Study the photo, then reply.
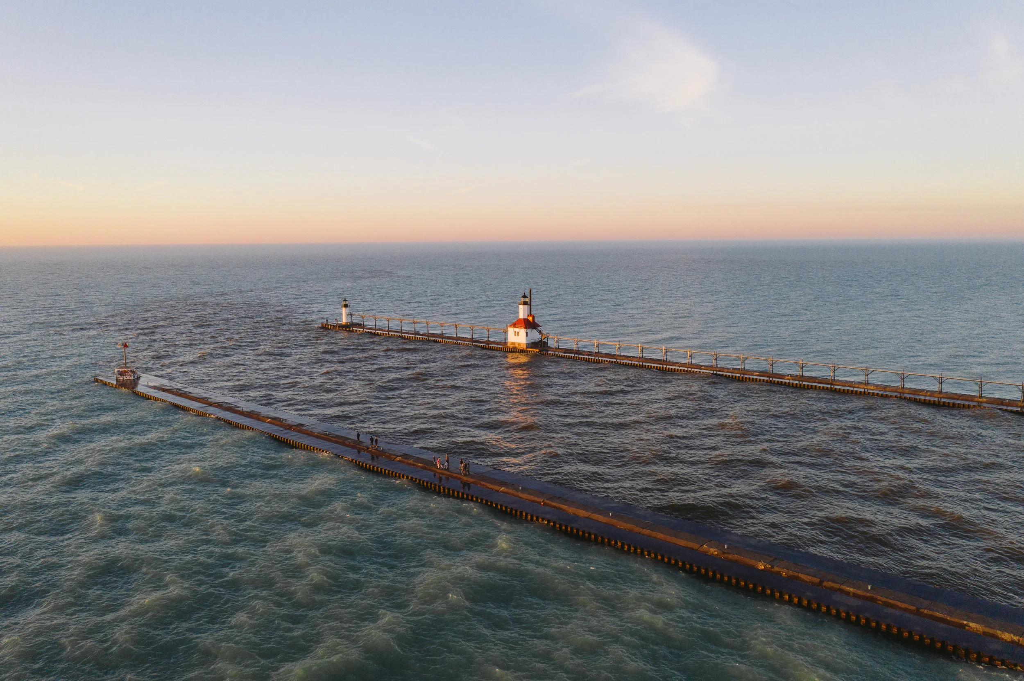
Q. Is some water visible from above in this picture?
Yes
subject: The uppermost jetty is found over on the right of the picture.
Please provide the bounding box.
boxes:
[321,322,1024,416]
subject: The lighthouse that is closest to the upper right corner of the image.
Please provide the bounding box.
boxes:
[504,289,554,348]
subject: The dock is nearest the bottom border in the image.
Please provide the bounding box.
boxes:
[94,374,1024,678]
